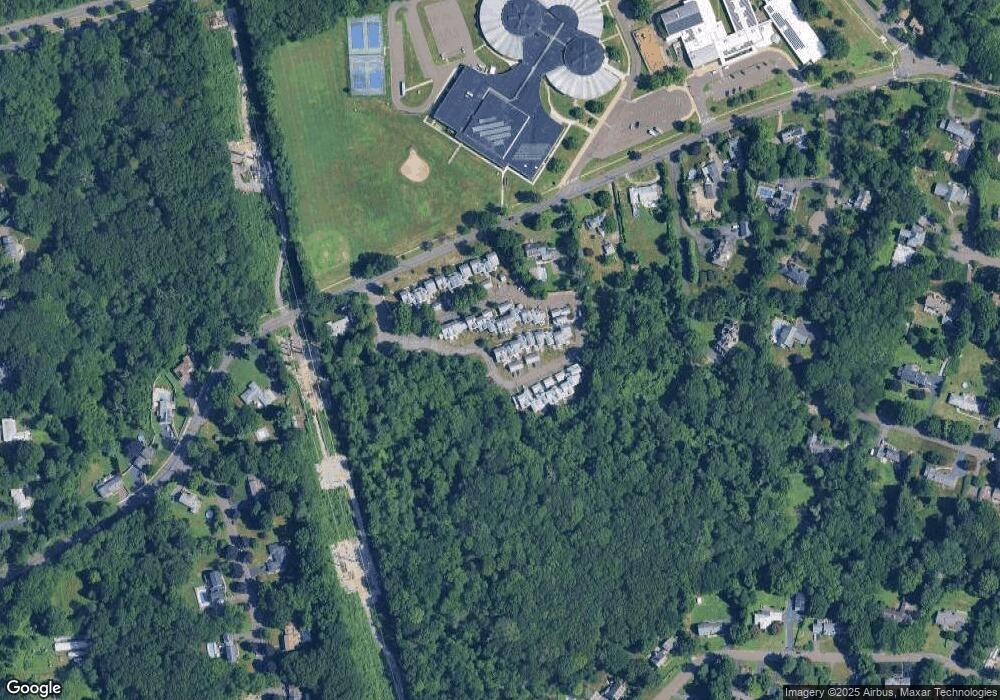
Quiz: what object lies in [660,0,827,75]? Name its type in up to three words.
building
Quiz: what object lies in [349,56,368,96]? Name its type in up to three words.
tennis court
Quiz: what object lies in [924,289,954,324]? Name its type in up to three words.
house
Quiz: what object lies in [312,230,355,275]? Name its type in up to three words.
baseball field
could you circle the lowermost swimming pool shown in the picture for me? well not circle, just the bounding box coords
[195,586,209,609]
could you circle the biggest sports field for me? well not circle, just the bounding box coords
[272,21,502,288]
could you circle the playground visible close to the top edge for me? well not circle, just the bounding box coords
[633,24,666,70]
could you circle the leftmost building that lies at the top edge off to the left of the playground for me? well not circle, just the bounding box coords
[434,0,623,183]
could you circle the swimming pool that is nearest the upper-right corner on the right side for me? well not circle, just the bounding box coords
[756,186,775,199]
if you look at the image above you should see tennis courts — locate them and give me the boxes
[366,55,386,95]
[349,56,368,96]
[365,15,384,55]
[347,16,366,56]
